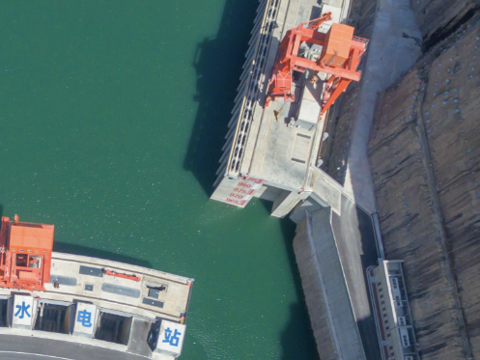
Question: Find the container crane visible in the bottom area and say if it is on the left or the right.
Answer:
left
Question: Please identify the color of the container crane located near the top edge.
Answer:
red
